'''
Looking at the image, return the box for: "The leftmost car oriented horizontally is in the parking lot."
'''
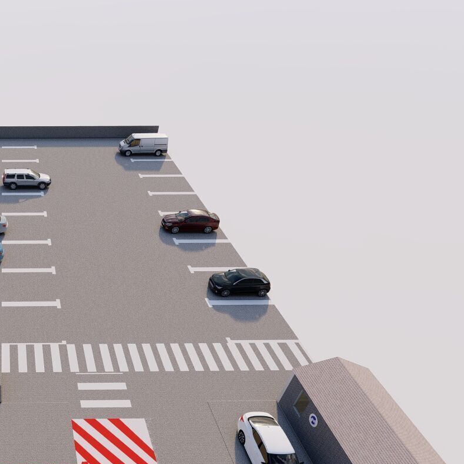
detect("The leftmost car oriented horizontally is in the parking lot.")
[3,167,52,190]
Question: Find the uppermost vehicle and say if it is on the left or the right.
left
